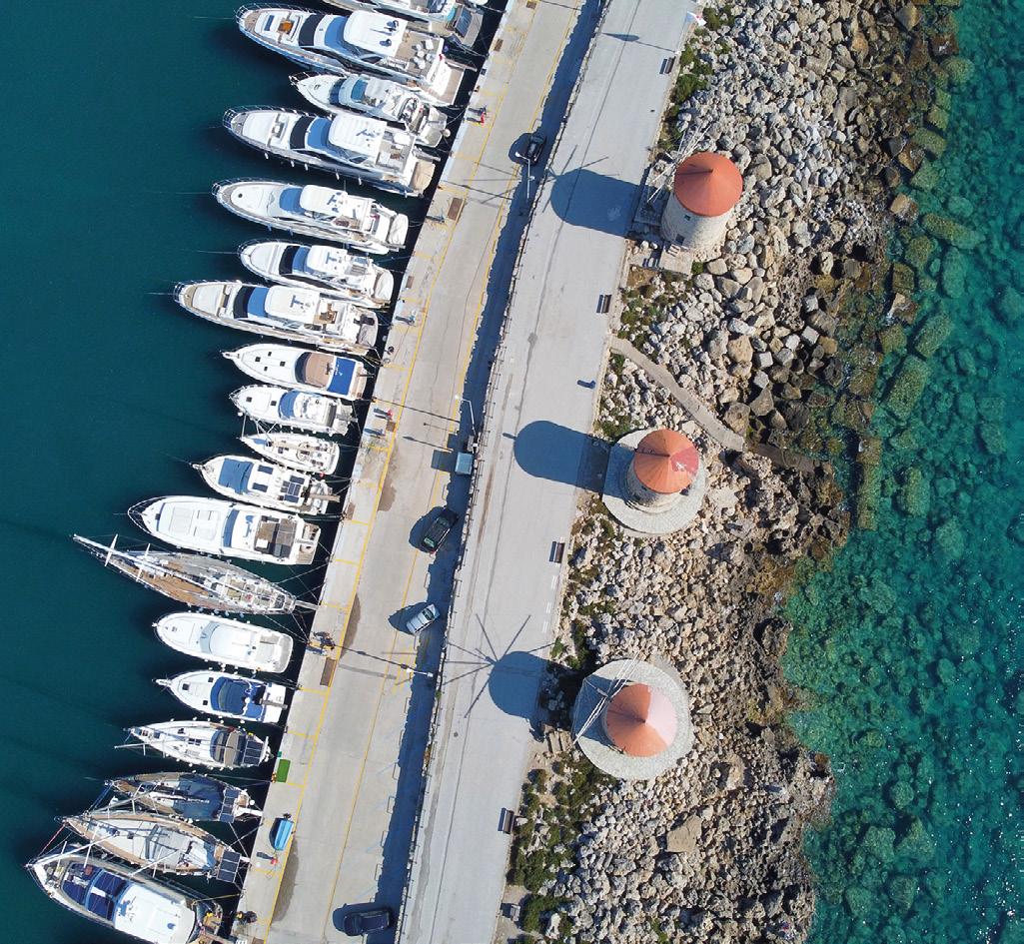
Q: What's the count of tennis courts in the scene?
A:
none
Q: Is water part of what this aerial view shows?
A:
Yes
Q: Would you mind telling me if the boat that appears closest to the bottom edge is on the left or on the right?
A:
left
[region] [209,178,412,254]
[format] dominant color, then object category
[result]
white boat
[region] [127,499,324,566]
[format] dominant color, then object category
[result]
white boat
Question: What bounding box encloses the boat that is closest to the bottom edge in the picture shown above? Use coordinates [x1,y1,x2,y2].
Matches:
[18,860,227,944]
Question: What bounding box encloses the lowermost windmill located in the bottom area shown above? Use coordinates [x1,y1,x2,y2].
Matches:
[577,649,679,759]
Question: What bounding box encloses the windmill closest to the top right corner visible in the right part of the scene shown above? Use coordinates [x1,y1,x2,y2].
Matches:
[650,120,744,253]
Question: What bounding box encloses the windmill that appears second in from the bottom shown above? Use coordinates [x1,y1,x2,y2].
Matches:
[617,430,700,517]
